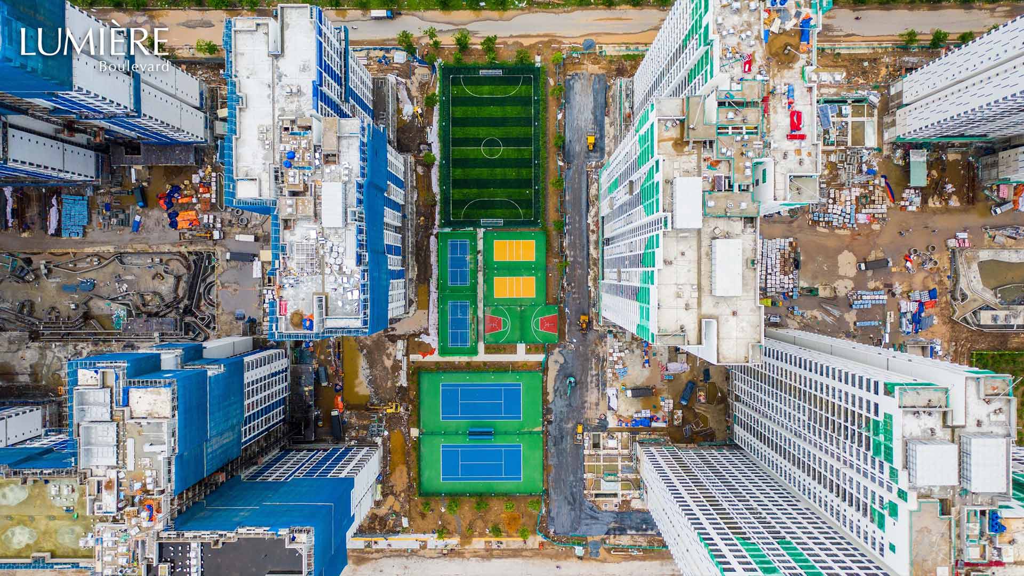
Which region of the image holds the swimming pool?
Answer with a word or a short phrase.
right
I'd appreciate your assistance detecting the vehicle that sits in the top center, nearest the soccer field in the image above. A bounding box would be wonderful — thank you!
[413,101,427,132]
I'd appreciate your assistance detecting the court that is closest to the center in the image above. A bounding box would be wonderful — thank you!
[484,269,546,305]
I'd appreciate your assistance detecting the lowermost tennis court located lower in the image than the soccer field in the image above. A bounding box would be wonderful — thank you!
[419,436,543,497]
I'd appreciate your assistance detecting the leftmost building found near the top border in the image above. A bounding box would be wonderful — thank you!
[0,0,203,143]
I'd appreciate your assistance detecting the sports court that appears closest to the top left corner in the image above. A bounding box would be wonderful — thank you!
[439,231,477,293]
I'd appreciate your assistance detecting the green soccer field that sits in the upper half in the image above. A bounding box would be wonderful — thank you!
[441,66,539,227]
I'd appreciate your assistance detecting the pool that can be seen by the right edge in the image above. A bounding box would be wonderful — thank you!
[951,248,1024,332]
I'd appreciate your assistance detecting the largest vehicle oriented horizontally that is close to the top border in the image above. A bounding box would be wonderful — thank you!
[367,5,393,17]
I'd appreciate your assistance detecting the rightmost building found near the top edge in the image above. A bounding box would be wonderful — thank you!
[901,14,1024,142]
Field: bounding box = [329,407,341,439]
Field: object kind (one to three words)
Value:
vehicle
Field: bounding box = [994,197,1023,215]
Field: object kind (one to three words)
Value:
vehicle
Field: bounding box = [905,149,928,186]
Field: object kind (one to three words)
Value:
shed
